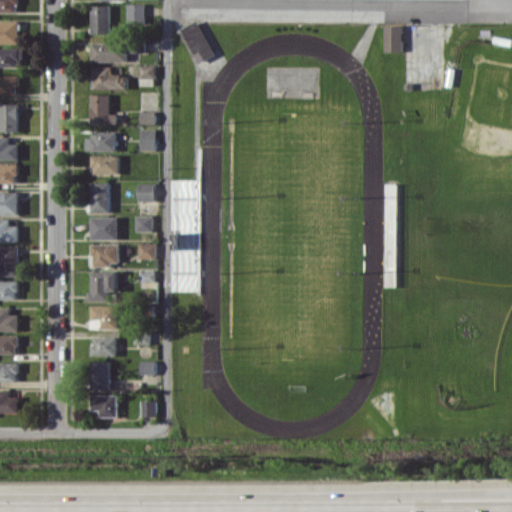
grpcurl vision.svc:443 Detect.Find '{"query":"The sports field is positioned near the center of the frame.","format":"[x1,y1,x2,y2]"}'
[222,54,364,420]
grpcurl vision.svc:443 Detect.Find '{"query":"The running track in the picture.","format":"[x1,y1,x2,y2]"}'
[202,35,384,438]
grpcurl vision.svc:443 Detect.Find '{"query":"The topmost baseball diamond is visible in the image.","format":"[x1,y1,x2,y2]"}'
[464,54,512,156]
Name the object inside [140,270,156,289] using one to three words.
building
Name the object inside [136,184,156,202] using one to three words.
building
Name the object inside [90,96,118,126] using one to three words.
house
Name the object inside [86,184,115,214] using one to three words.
house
